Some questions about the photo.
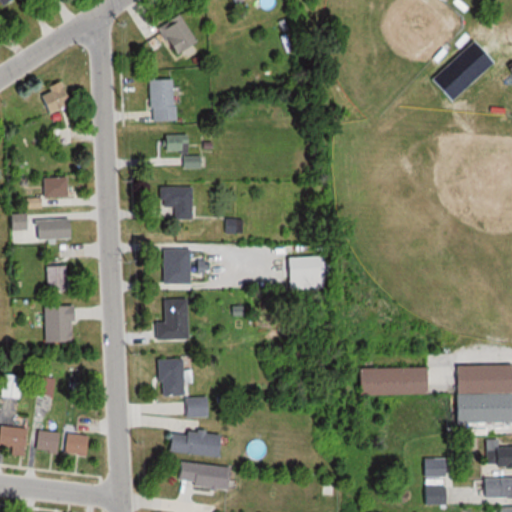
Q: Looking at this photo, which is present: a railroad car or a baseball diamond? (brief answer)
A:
baseball diamond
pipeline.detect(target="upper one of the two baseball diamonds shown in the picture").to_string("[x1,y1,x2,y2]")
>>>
[332,0,469,117]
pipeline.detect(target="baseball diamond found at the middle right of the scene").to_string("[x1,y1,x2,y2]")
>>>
[334,108,512,340]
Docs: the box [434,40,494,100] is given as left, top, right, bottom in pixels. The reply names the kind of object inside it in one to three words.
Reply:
barn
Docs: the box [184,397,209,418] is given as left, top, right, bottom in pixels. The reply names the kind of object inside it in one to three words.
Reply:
building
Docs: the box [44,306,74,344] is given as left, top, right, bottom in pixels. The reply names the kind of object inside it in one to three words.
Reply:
house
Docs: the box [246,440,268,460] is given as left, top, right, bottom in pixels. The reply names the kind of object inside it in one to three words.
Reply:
swimming pool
